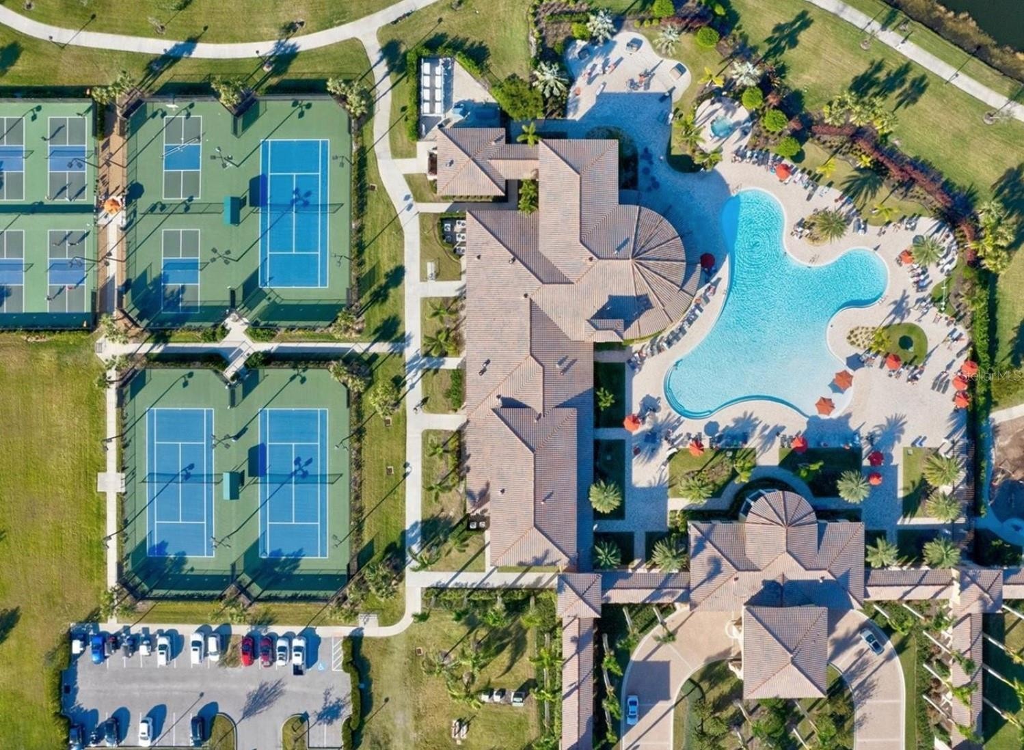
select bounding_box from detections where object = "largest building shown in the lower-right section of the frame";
[686,483,865,700]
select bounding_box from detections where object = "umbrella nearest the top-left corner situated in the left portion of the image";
[105,195,123,212]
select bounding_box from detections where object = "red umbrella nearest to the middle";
[623,414,641,432]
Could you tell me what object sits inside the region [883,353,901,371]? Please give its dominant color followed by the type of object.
red umbrella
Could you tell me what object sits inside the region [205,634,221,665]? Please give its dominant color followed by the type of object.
white car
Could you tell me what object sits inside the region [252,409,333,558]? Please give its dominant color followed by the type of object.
blue tennis court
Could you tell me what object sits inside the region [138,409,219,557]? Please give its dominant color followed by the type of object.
blue tennis court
